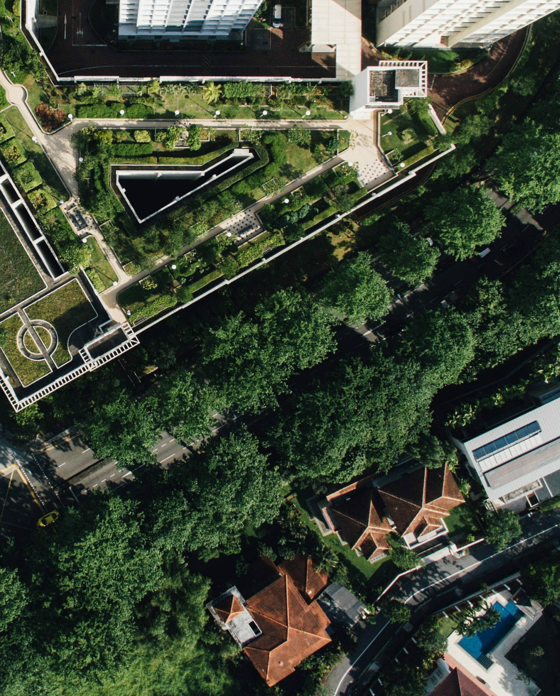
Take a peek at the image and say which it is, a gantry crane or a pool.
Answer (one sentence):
Looking from above, you can make out a pool.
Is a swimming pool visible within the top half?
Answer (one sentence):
No, within the top half there is no swimming pool.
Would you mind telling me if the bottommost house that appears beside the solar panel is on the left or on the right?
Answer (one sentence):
The bottommost house that appears beside the solar panel sits on the right side.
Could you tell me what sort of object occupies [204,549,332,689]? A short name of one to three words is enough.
house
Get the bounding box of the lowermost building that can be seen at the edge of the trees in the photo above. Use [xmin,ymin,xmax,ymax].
[423,654,492,696]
